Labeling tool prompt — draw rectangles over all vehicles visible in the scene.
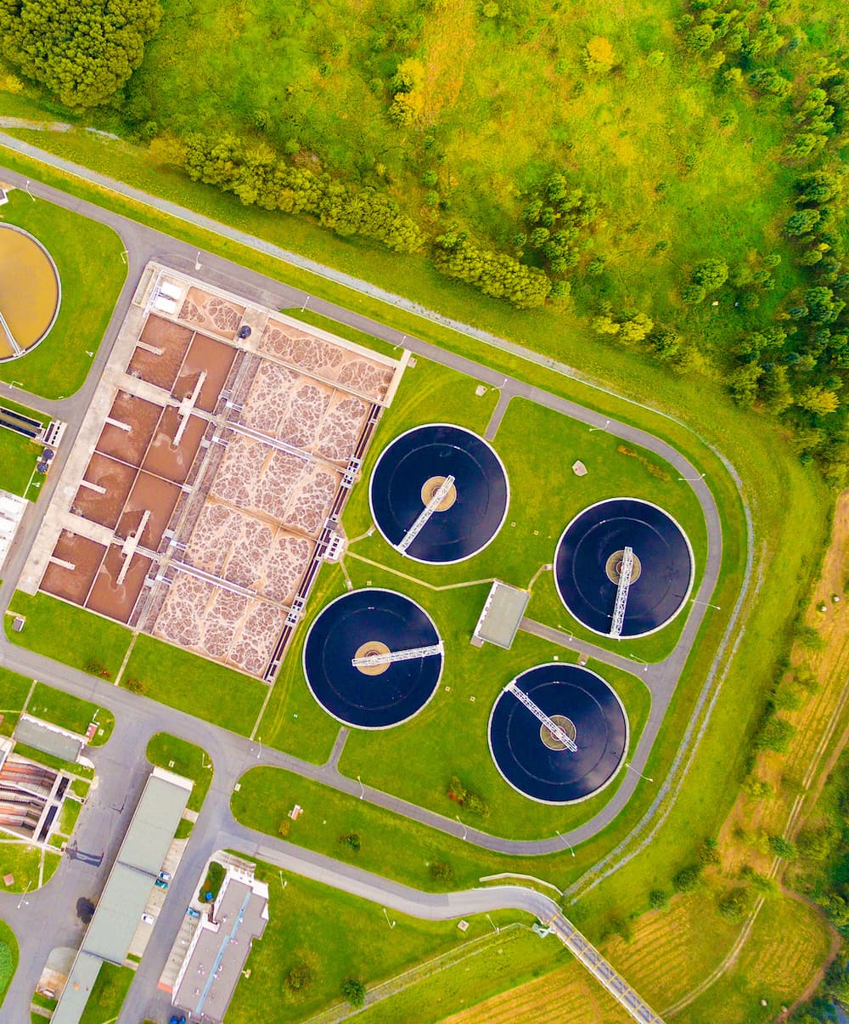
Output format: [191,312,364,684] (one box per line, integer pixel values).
[177,1013,187,1024]
[141,912,155,925]
[186,906,200,917]
[159,869,171,879]
[170,1013,179,1024]
[156,878,168,888]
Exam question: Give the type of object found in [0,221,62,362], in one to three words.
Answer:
storage tank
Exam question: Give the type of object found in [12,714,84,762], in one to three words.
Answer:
building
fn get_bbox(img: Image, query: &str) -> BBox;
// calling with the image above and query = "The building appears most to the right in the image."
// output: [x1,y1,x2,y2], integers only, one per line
[471,581,531,650]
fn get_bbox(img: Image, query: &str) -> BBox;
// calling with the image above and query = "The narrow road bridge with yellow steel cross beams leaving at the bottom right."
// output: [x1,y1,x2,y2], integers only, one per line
[540,913,668,1024]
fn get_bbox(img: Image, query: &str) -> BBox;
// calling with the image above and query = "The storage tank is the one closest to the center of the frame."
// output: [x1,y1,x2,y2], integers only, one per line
[368,423,511,565]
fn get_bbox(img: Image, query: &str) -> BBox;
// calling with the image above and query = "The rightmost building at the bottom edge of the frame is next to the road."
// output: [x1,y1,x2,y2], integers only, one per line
[173,860,269,1024]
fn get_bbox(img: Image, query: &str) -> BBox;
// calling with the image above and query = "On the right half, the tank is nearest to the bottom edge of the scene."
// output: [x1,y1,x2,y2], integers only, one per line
[487,662,630,805]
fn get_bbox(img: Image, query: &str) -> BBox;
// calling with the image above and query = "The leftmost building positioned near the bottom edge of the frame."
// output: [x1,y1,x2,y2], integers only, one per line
[49,766,191,1024]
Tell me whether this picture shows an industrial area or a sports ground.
industrial area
